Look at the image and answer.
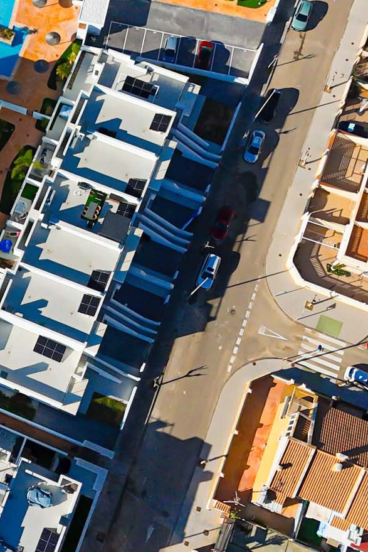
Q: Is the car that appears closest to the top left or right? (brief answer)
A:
right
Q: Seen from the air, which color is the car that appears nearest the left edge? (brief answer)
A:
blue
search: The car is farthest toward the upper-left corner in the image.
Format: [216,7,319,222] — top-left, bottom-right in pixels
[161,35,181,67]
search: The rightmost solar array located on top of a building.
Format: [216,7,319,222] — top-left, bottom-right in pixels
[146,111,169,132]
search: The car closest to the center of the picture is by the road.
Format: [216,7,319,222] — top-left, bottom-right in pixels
[194,252,222,293]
